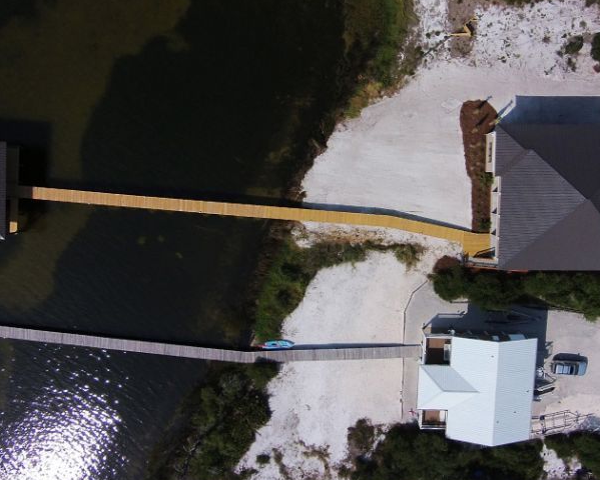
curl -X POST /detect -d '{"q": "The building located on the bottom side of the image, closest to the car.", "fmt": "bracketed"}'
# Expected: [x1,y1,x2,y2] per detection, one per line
[416,331,537,447]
